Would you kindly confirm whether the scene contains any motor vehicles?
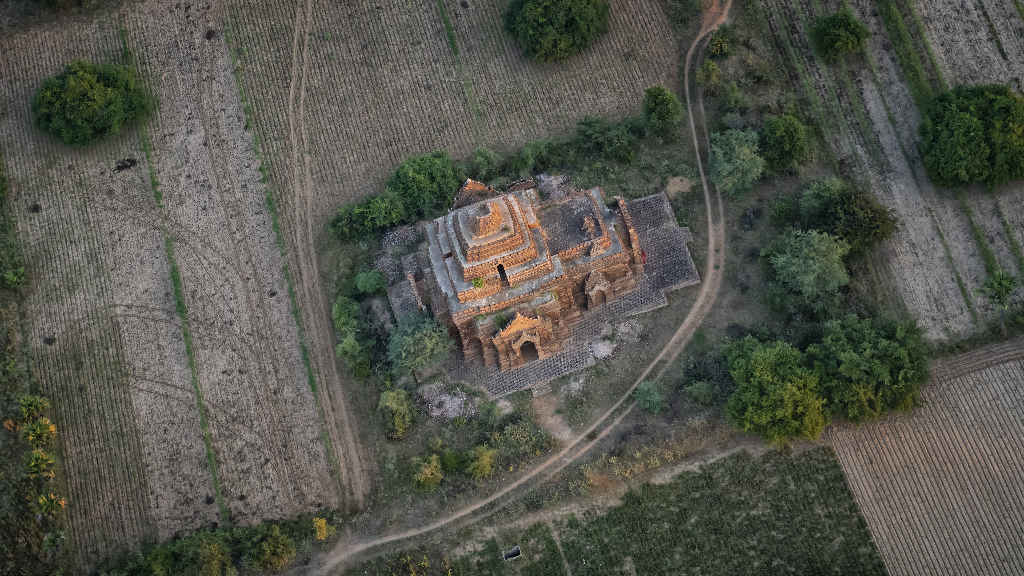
No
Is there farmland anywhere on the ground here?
Yes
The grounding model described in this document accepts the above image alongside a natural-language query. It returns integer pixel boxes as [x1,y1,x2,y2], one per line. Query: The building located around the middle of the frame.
[407,178,647,371]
